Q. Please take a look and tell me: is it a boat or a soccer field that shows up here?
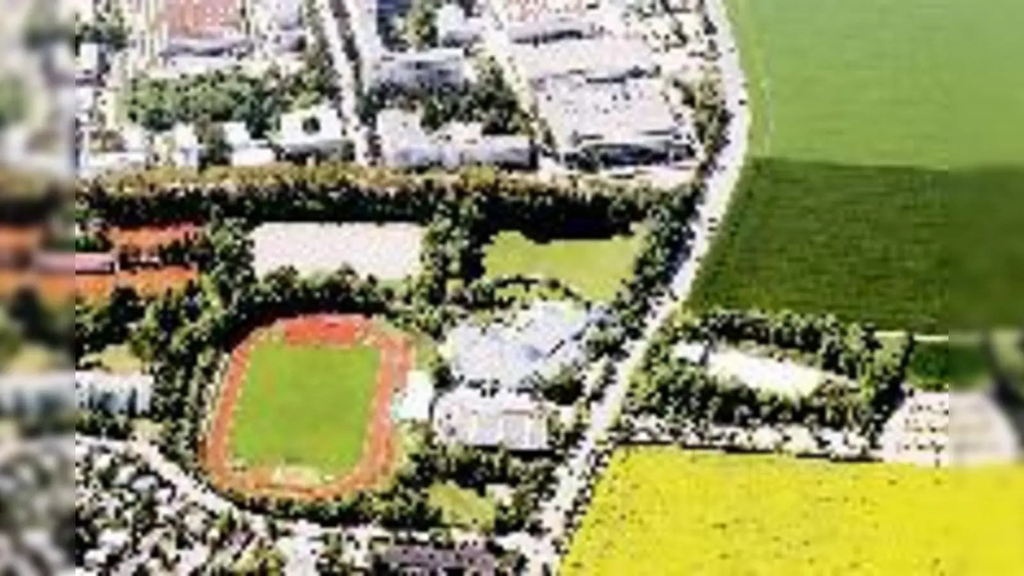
soccer field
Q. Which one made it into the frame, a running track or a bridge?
running track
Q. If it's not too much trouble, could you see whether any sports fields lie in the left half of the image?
Yes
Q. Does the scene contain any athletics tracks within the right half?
No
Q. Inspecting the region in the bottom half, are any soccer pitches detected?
Yes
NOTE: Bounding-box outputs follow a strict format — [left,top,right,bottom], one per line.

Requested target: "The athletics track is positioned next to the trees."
[200,319,412,508]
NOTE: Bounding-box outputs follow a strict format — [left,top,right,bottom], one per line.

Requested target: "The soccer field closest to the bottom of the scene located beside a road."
[226,346,389,472]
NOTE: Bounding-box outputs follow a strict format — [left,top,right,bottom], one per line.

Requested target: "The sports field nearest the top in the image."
[252,222,428,281]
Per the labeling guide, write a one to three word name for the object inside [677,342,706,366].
house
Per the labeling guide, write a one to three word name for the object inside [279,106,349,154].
building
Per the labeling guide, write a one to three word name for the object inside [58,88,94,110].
shed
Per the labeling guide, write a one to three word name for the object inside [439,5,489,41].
house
